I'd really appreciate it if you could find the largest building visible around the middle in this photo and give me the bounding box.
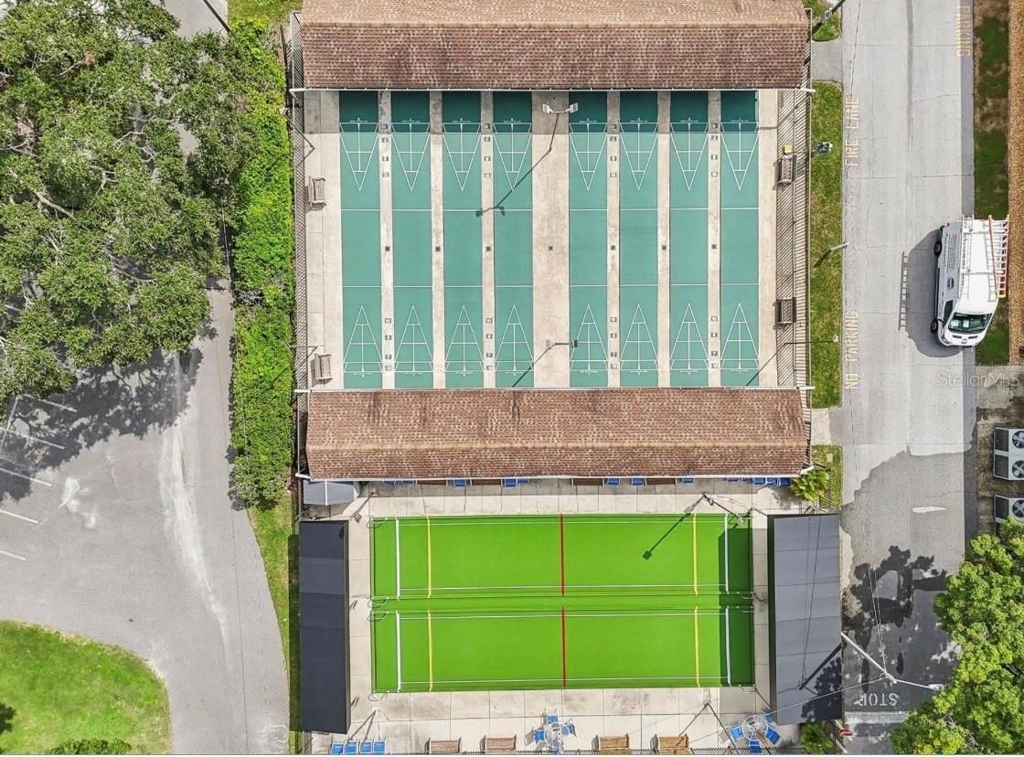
[295,387,814,482]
